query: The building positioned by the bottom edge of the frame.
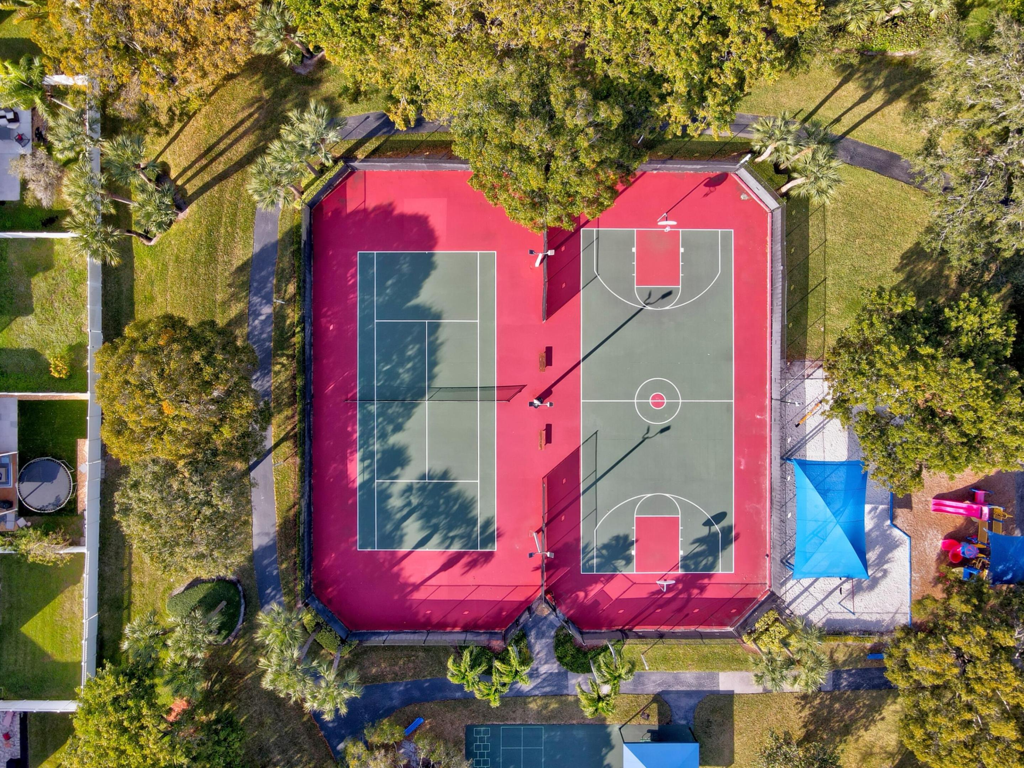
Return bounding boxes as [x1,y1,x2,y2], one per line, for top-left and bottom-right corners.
[617,727,700,768]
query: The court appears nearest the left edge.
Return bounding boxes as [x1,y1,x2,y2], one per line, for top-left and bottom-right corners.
[312,170,544,631]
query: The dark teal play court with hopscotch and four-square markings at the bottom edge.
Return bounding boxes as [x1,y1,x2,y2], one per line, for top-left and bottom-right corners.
[466,725,700,768]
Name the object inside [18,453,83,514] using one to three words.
trampoline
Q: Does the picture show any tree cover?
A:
Yes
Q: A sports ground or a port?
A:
sports ground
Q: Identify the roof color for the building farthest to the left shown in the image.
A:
blue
